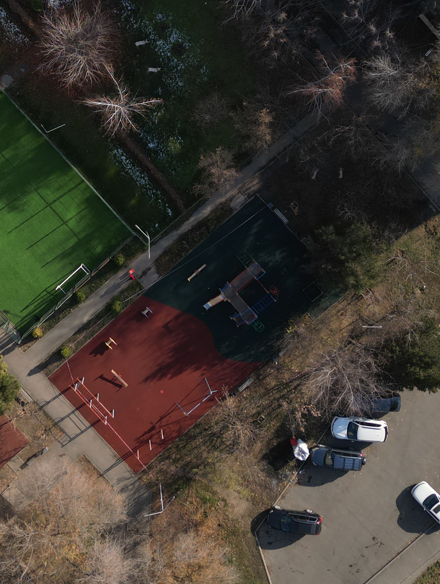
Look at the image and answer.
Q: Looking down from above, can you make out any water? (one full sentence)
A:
No, the picture contains no water.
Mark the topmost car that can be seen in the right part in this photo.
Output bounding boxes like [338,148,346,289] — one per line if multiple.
[348,390,404,416]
